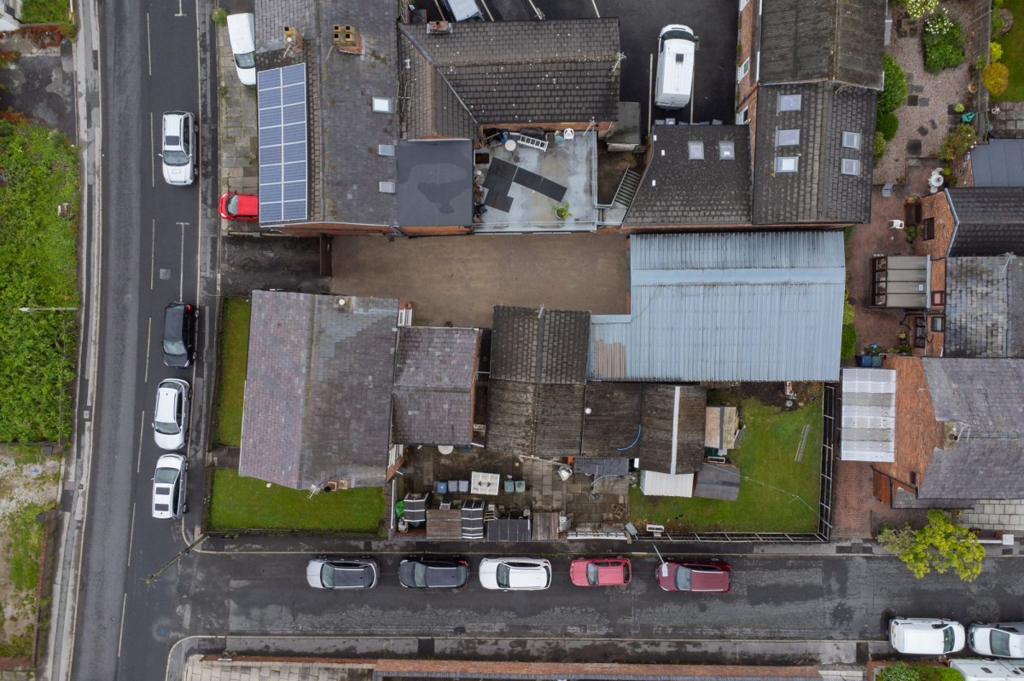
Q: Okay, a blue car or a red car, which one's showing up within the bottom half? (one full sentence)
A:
You can see a red car within the bottom half.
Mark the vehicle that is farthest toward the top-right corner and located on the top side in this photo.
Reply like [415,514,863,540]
[656,30,698,119]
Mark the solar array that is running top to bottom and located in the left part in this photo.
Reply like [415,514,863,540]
[256,61,307,225]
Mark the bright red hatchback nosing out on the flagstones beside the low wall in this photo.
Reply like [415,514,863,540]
[219,190,257,221]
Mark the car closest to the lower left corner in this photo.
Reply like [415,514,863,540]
[152,453,189,518]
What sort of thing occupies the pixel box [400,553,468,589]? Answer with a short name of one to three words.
car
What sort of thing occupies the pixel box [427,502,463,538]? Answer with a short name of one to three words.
shed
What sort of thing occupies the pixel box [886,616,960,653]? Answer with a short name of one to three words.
van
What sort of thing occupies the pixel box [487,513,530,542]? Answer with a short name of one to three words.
shed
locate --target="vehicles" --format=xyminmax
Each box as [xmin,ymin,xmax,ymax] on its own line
[308,554,379,591]
[963,619,1024,658]
[162,302,199,367]
[161,111,201,186]
[656,30,698,119]
[954,659,1024,681]
[400,553,468,589]
[219,190,257,221]
[446,0,485,21]
[222,5,255,89]
[571,555,631,587]
[886,616,960,653]
[481,555,551,590]
[152,453,189,518]
[153,379,191,449]
[656,556,730,593]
